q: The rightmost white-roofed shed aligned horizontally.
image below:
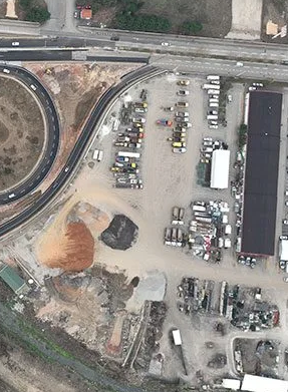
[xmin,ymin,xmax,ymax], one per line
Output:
[239,372,288,392]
